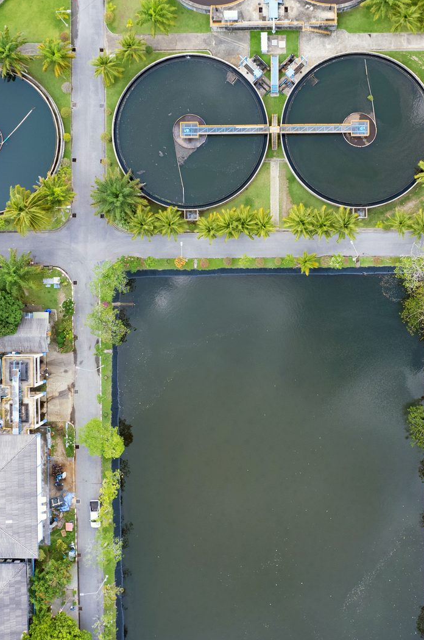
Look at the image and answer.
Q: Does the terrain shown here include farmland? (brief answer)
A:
No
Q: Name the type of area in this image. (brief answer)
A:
industrial area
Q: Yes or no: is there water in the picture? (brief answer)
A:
Yes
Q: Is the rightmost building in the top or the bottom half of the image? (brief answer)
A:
top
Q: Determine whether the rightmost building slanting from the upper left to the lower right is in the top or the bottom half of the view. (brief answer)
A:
top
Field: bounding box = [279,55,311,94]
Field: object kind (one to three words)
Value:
building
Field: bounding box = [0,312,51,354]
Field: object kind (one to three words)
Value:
shed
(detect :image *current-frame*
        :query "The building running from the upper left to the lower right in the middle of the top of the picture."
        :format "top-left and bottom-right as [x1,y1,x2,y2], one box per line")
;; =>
[237,55,271,95]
